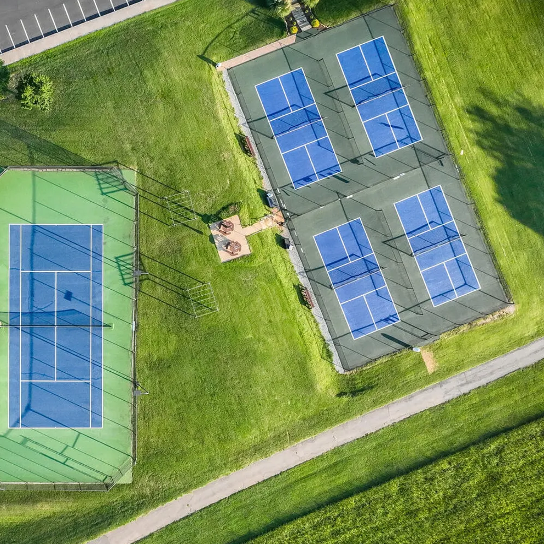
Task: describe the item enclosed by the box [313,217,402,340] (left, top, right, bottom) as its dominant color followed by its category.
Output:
blue sports court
